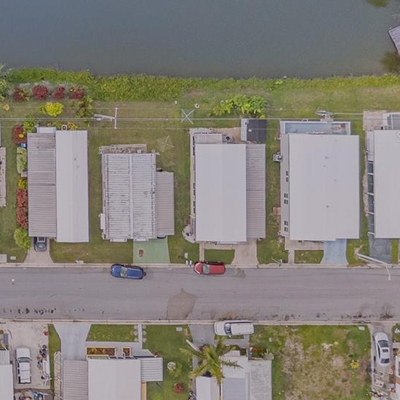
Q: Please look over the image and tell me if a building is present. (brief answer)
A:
Yes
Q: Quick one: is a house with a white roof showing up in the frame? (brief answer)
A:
Yes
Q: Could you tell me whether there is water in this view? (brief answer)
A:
Yes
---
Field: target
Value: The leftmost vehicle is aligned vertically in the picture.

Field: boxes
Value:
[15,346,31,385]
